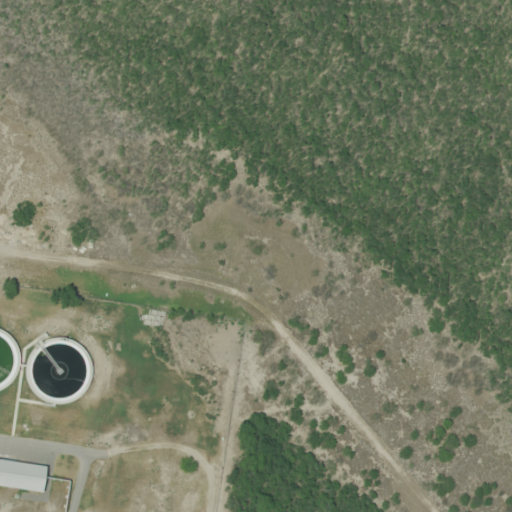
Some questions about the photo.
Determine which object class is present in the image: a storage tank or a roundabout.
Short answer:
storage tank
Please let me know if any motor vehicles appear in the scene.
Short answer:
No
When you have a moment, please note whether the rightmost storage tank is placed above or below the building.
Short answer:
above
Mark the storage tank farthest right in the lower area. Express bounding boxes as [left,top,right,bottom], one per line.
[26,337,94,404]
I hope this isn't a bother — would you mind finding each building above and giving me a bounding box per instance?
[0,458,48,493]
